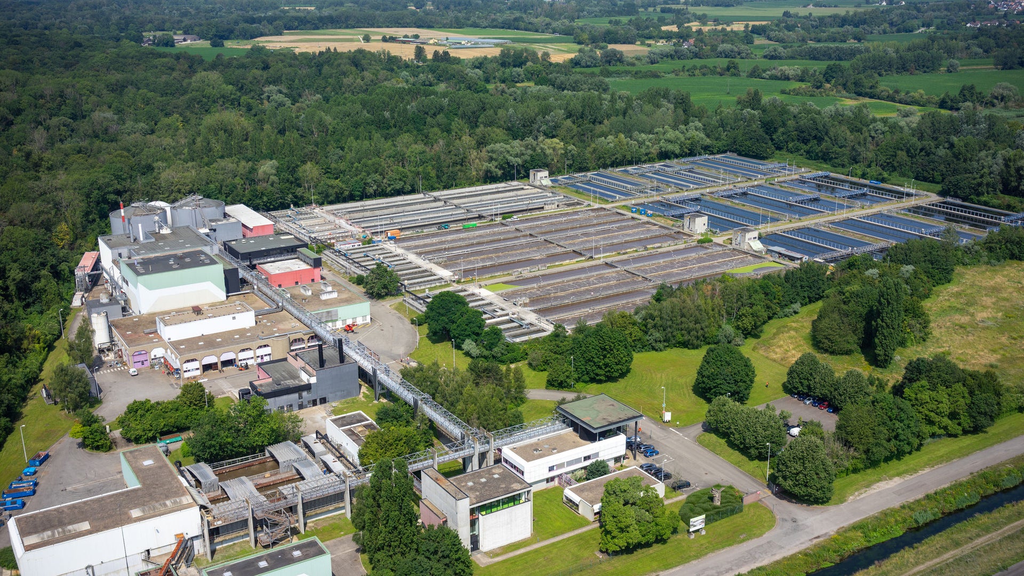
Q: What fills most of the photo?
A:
trees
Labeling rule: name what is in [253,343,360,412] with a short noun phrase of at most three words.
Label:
building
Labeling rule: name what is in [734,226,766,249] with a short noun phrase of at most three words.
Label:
building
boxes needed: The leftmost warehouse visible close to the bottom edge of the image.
[8,443,205,576]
